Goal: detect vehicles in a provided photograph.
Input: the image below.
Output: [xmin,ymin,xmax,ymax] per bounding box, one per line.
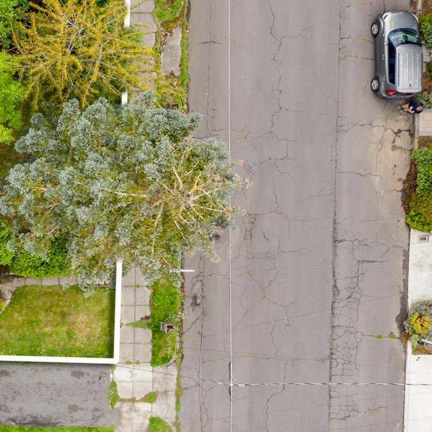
[369,12,426,101]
